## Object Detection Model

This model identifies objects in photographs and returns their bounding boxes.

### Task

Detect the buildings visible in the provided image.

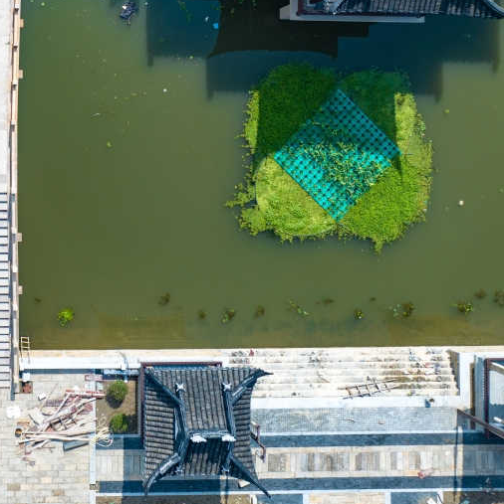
[287,0,504,27]
[467,357,504,442]
[137,355,274,501]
